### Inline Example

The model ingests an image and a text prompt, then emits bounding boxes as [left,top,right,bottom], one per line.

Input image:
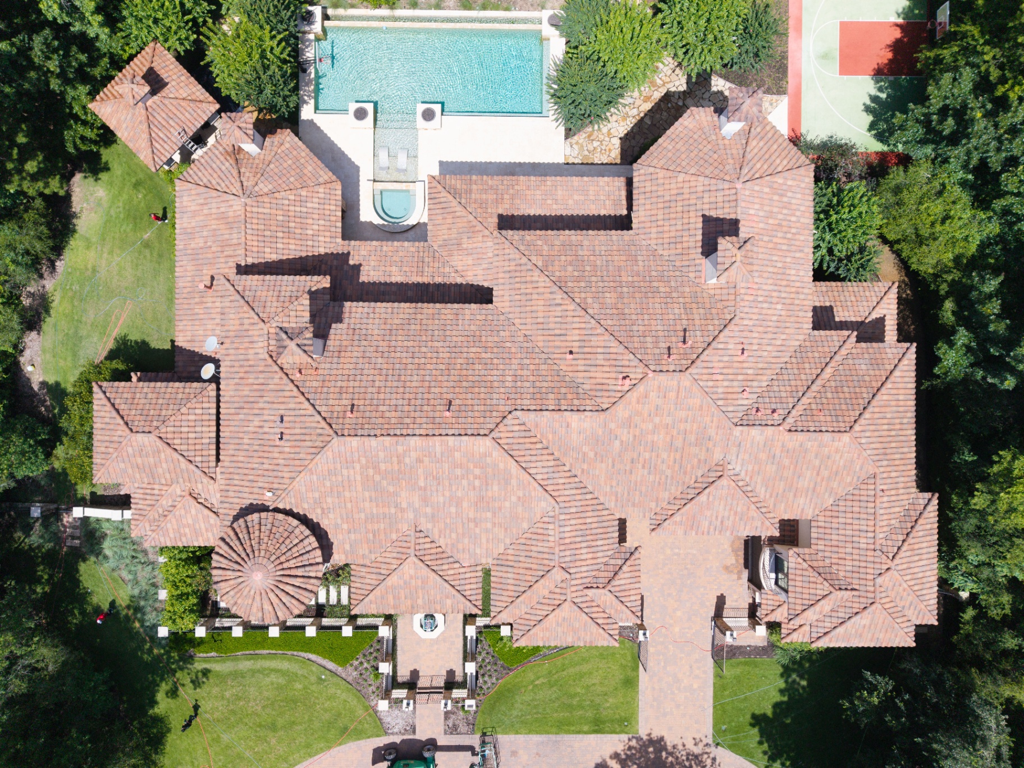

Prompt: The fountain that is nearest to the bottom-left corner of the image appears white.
[413,614,445,639]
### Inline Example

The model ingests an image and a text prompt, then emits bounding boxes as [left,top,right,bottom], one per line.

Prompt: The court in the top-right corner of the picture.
[802,0,928,151]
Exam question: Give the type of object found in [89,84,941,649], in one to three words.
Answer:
house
